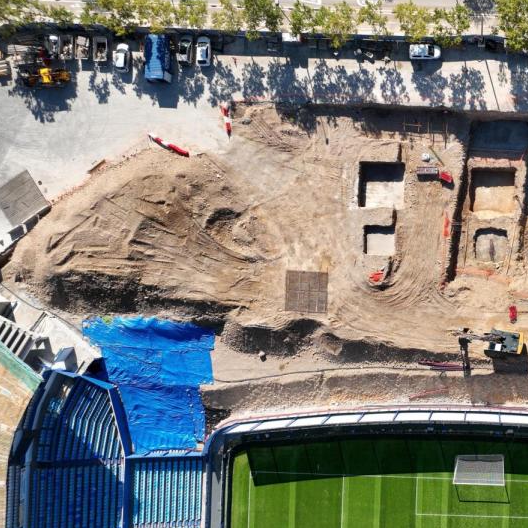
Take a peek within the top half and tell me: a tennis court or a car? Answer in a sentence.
You can see a car within the top half.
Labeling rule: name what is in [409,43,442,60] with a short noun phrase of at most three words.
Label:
vehicle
